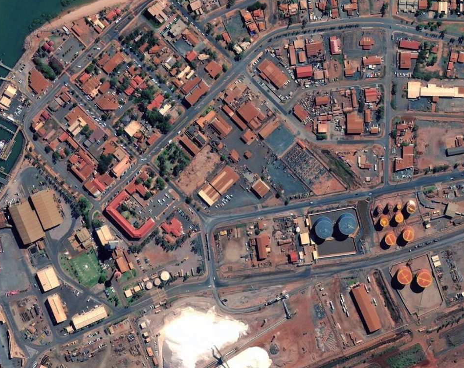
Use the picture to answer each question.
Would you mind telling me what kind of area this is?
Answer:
residential area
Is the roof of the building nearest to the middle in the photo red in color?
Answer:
Yes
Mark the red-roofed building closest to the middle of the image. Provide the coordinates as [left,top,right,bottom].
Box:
[211,160,243,193]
